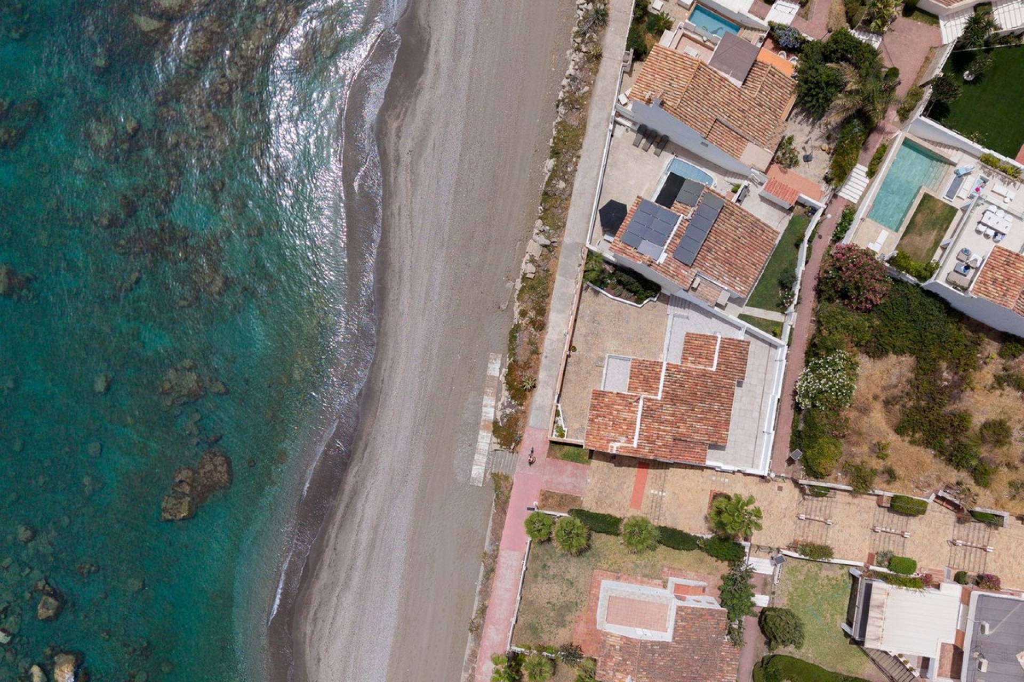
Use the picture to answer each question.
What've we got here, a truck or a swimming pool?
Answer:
swimming pool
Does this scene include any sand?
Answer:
Yes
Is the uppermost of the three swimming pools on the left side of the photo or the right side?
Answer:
right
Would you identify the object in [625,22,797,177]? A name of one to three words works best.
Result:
house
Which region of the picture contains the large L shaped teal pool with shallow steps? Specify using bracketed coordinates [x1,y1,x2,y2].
[860,131,961,240]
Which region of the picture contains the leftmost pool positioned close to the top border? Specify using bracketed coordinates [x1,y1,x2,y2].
[681,0,746,38]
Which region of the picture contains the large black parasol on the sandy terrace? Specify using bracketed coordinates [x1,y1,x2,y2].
[597,202,628,233]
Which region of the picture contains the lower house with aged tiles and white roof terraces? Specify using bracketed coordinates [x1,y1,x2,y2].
[594,575,741,682]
